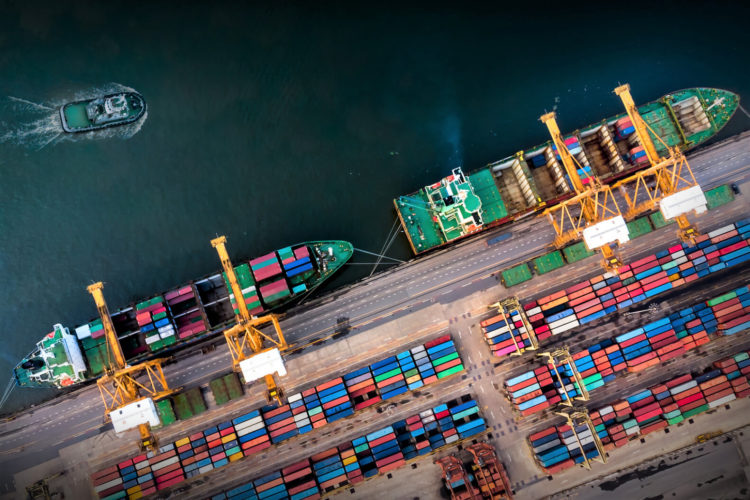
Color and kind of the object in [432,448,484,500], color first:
red container crane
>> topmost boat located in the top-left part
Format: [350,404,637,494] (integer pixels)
[61,94,146,132]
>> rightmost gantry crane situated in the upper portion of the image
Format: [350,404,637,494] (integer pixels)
[612,83,709,245]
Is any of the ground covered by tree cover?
No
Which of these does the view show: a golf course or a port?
port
